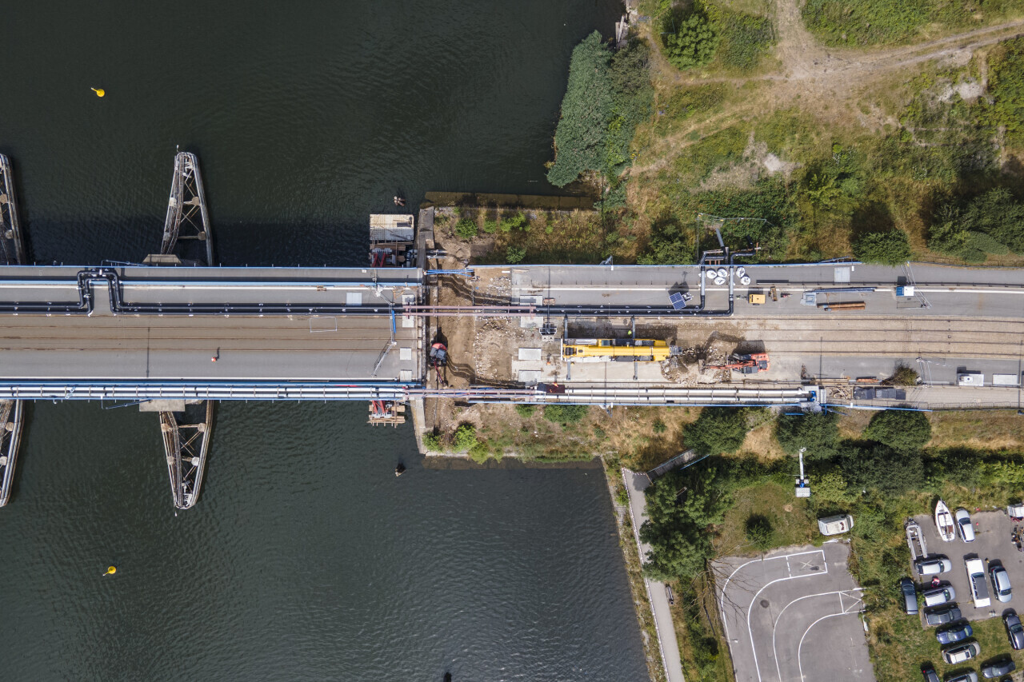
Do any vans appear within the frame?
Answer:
Yes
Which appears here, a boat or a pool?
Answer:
boat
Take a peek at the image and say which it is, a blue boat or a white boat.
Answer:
white boat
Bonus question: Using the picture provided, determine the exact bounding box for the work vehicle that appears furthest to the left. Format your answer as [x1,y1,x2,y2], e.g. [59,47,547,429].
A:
[426,337,448,384]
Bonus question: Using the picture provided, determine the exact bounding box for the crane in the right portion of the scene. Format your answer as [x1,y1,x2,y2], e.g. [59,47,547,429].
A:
[561,316,682,381]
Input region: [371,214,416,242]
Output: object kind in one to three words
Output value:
pier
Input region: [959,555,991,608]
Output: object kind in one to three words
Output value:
van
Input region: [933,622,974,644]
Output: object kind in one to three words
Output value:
car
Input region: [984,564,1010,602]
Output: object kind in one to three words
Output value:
car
